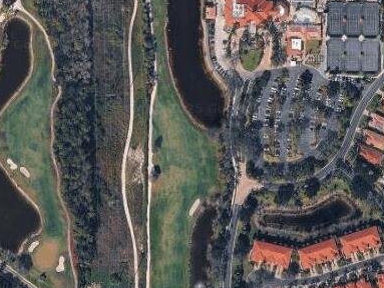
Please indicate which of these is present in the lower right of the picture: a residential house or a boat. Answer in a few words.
residential house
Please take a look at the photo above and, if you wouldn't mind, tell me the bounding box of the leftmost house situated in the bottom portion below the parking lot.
[250,241,290,267]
